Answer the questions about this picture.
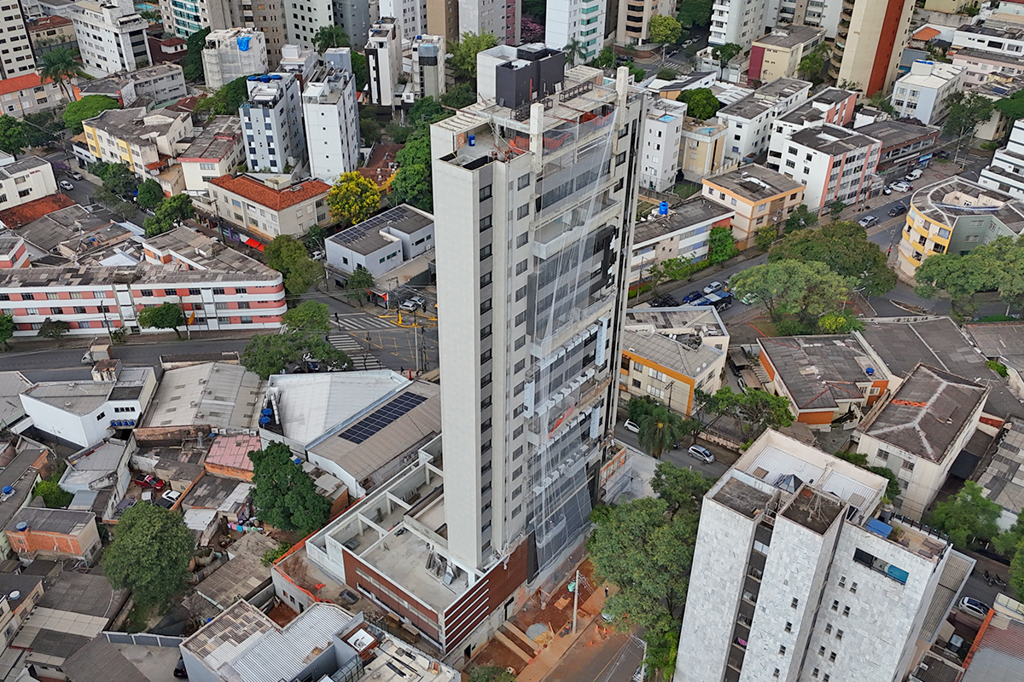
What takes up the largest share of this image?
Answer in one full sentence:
The scene is dominated by buildings.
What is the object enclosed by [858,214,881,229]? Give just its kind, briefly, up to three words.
vehicle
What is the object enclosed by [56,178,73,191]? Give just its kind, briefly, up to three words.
vehicle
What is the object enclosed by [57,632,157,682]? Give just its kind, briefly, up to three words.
shed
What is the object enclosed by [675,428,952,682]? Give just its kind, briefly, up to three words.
building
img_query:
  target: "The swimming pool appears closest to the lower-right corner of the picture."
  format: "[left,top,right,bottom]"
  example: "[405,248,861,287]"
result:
[886,565,910,587]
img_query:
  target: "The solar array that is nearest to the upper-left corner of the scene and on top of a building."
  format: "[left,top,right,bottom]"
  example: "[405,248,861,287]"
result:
[335,202,433,246]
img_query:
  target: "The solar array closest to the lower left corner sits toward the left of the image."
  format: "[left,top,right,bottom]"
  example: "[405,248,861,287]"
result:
[336,383,436,446]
